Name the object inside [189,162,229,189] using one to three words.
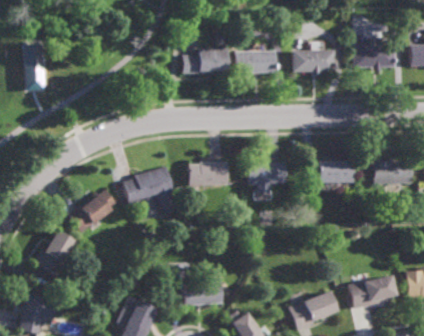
house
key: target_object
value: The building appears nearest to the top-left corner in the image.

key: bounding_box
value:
[23,44,47,91]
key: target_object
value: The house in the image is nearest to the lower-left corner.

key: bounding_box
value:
[8,300,44,334]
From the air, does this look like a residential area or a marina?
residential area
